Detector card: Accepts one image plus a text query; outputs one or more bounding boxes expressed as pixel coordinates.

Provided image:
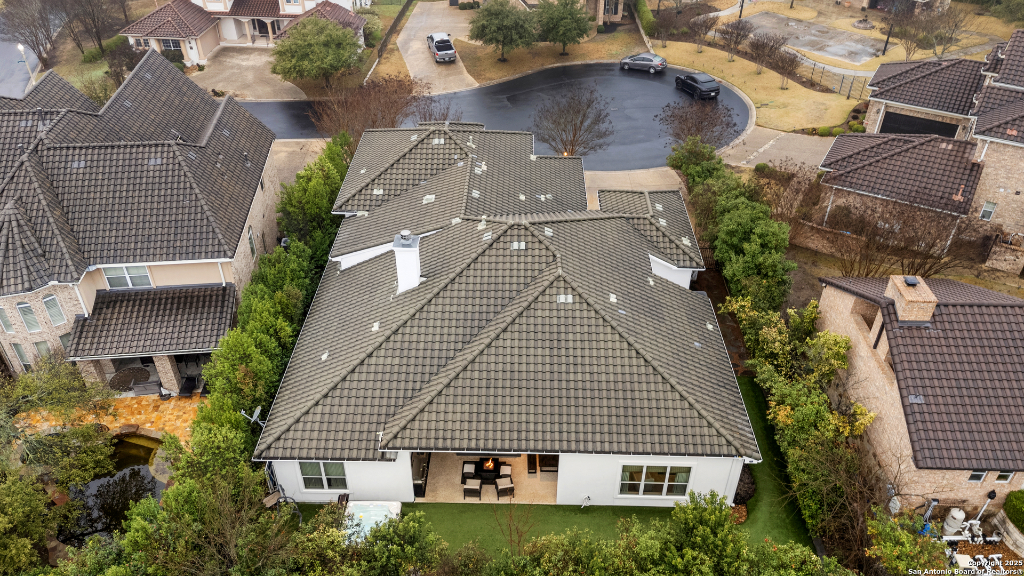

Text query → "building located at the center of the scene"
[253,121,762,514]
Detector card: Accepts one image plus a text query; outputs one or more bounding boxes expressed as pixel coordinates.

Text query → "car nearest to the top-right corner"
[674,73,721,102]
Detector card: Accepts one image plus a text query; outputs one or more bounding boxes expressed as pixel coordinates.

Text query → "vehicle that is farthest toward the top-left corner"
[426,30,458,62]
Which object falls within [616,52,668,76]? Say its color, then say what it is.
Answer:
gray car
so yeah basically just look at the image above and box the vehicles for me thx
[426,30,458,62]
[616,52,668,76]
[674,73,721,102]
